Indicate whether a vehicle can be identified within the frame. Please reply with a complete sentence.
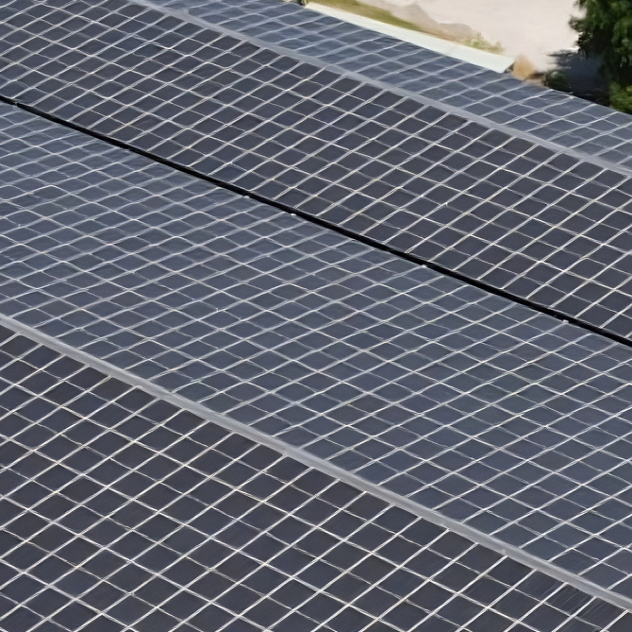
No, I find no vehicle anywhere in the image.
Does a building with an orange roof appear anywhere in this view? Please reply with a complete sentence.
No, the frame has no building with an orange roof in it.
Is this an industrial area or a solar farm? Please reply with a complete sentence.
This image shows a solar farm.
